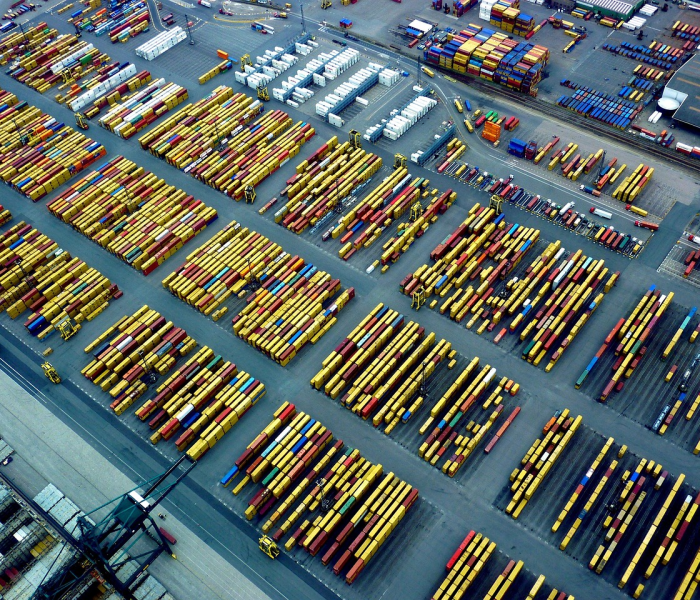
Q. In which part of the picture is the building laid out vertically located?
top right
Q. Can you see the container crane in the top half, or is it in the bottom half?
bottom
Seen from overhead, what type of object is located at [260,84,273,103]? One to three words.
vehicle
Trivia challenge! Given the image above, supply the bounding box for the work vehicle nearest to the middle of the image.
[410,287,426,310]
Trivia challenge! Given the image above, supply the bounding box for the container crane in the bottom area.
[20,454,198,600]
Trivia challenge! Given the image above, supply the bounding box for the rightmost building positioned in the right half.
[662,53,700,139]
